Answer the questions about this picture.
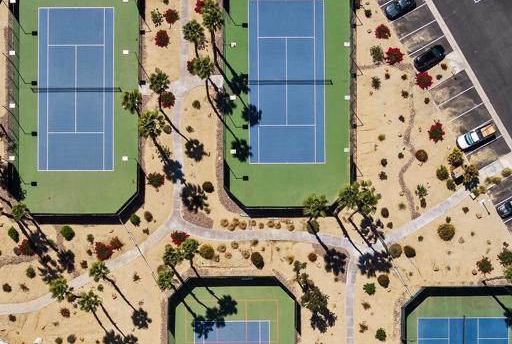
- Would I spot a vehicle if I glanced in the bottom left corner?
No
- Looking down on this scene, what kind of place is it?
sports ground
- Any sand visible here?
Yes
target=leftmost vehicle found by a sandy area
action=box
[383,0,417,20]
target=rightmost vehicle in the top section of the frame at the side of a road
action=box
[454,121,497,152]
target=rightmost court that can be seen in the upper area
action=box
[226,0,350,206]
